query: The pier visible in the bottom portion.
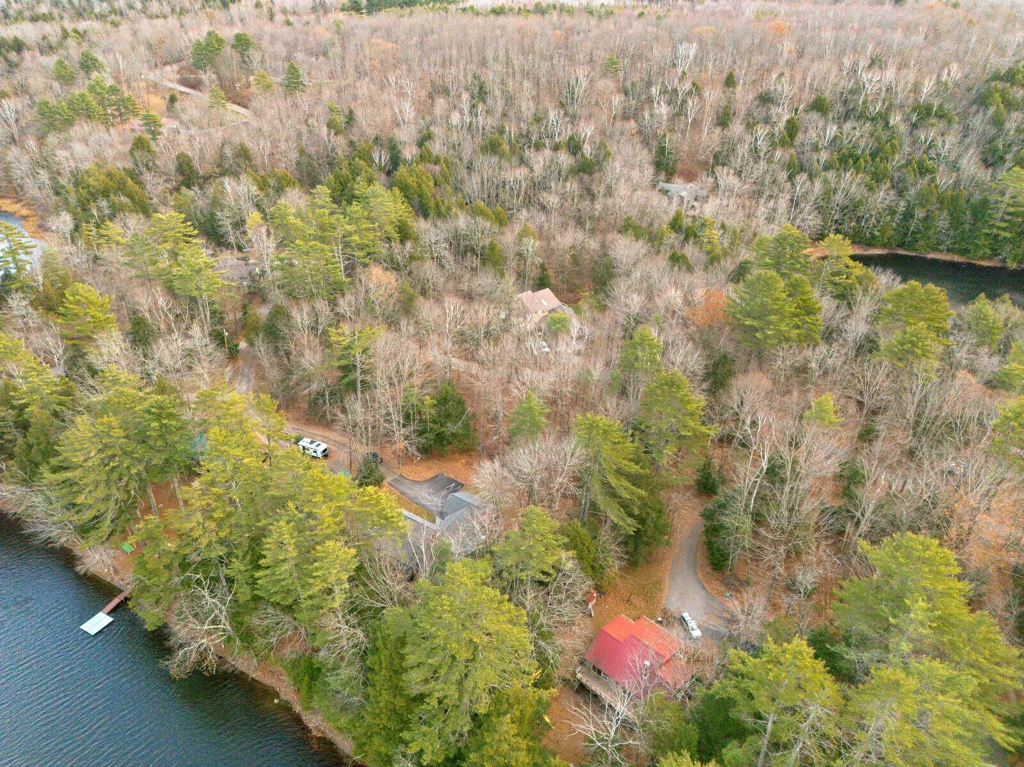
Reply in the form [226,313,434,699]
[77,584,139,636]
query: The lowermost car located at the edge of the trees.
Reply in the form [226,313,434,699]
[679,609,706,642]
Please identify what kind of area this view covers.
forest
